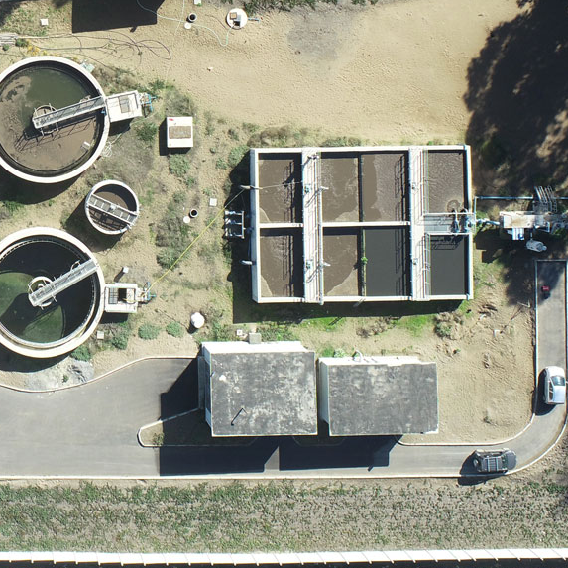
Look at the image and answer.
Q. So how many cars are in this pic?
two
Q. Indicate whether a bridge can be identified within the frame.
Yes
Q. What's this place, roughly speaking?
industrial area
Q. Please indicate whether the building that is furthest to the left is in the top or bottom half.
bottom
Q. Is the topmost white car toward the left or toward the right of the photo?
right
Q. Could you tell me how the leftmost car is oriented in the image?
horizontally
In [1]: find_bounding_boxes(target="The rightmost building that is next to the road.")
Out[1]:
[319,353,438,439]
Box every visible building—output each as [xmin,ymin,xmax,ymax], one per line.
[319,353,438,439]
[203,343,317,439]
